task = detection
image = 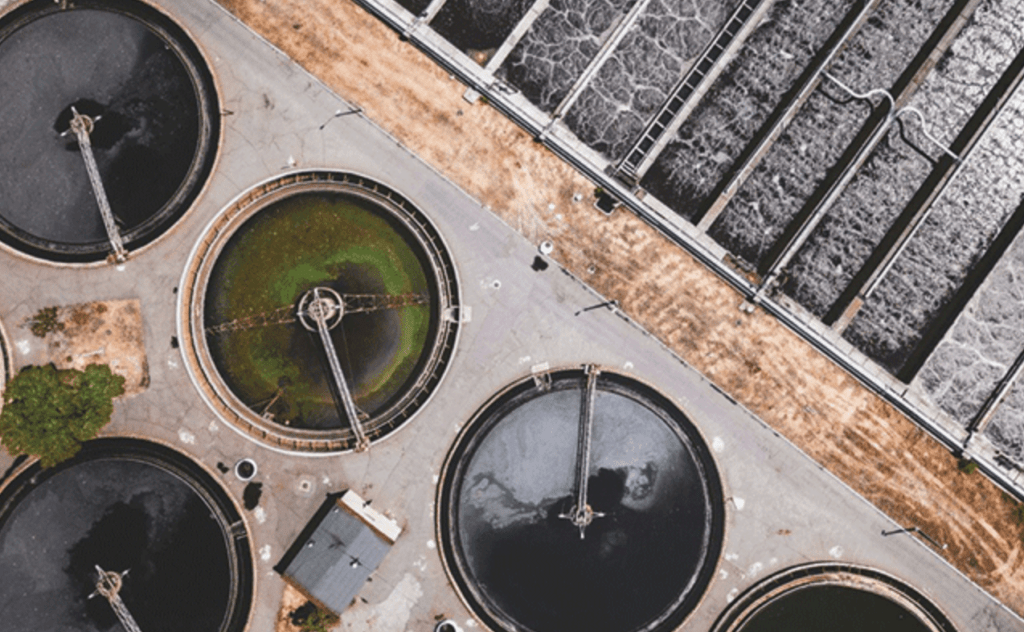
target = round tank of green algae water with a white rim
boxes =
[176,170,470,456]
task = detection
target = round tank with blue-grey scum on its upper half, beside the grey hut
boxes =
[435,364,728,632]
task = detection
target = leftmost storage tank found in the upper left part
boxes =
[0,0,221,267]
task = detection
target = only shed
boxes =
[282,491,400,617]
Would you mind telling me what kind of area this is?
industrial area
